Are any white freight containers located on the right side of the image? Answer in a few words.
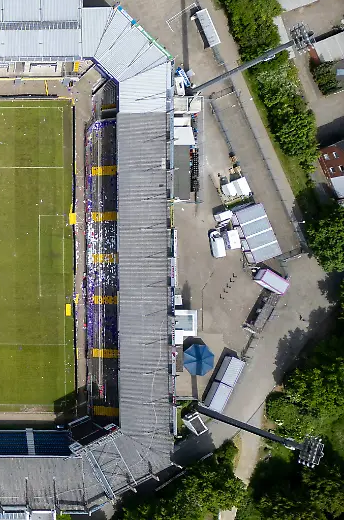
Yes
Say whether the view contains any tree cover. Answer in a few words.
Yes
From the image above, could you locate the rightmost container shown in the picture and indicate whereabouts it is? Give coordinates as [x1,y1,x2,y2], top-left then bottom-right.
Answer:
[247,269,289,294]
